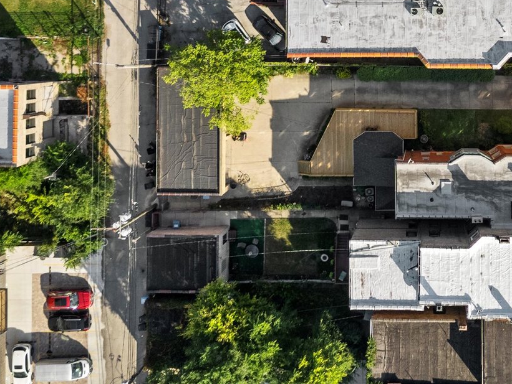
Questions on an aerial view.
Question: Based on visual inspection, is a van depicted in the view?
Yes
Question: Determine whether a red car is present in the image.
Yes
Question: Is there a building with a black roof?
Yes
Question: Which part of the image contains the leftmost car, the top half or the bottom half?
bottom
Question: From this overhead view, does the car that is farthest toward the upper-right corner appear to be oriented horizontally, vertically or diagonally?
diagonally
